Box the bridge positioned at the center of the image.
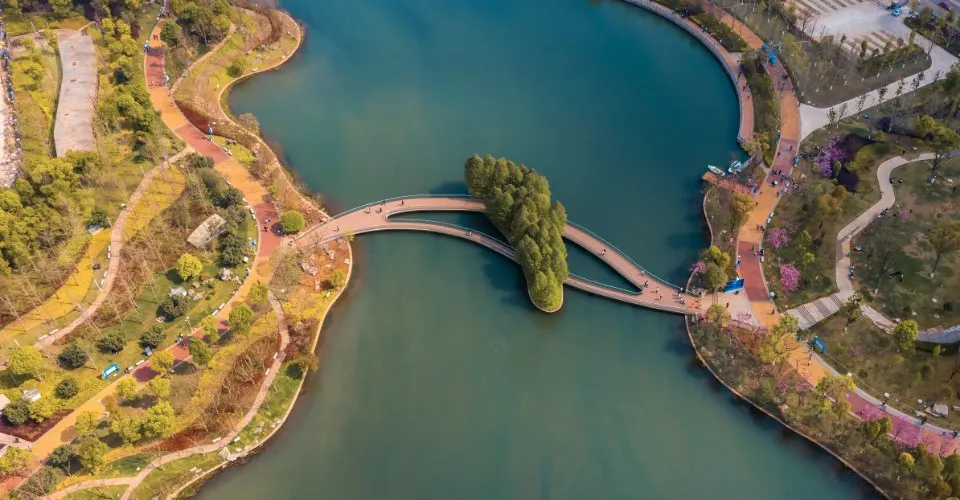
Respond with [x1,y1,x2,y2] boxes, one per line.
[295,194,701,318]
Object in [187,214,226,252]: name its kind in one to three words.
building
